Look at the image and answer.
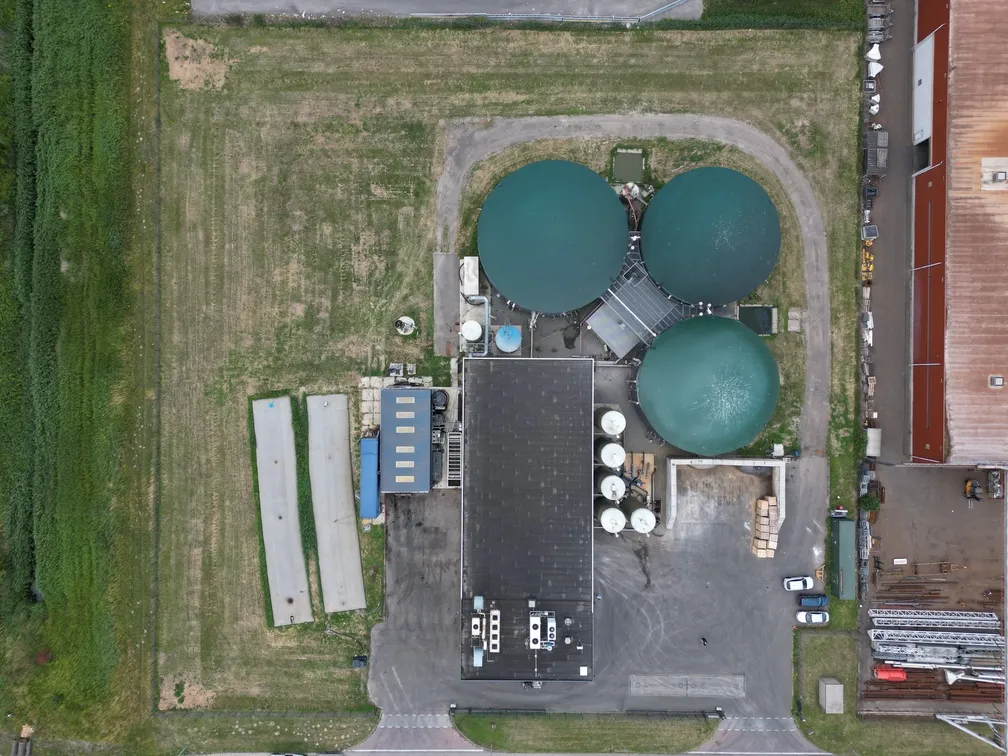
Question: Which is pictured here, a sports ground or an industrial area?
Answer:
industrial area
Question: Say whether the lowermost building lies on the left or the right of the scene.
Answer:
right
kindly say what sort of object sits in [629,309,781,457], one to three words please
storage tank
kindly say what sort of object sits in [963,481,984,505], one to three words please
work vehicle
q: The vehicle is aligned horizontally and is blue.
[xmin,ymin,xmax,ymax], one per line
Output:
[797,593,828,608]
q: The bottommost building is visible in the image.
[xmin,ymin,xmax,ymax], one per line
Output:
[818,676,844,713]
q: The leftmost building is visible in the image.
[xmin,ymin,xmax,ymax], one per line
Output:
[381,388,433,492]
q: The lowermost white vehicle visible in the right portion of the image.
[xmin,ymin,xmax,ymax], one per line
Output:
[796,609,830,624]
